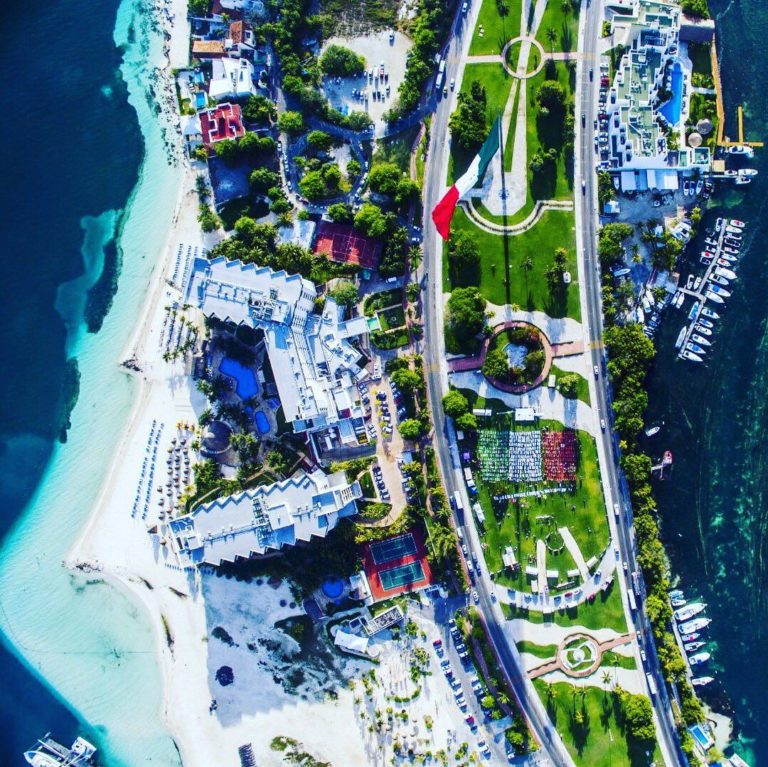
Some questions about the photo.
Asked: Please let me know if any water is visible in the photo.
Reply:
Yes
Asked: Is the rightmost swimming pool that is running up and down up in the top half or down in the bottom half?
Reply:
top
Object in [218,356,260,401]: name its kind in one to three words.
swimming pool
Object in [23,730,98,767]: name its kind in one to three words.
ship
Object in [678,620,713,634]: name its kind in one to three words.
boat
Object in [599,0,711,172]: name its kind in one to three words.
building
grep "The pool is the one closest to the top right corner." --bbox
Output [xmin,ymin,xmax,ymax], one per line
[657,61,684,127]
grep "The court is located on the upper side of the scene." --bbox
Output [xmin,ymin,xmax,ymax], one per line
[314,219,383,270]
